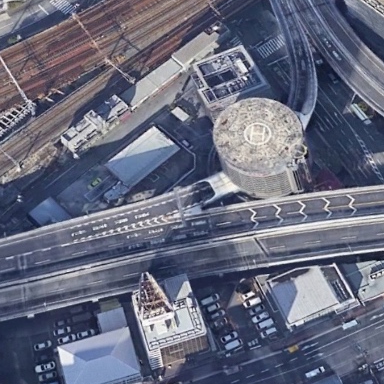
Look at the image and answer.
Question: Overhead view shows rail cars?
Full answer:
No, the frame has no rail car in it.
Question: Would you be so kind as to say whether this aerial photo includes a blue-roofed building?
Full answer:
Yes, there's a blue-roofed building here.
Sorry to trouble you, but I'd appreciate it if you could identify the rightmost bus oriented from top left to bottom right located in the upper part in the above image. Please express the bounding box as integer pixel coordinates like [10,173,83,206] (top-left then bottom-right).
[347,97,375,129]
